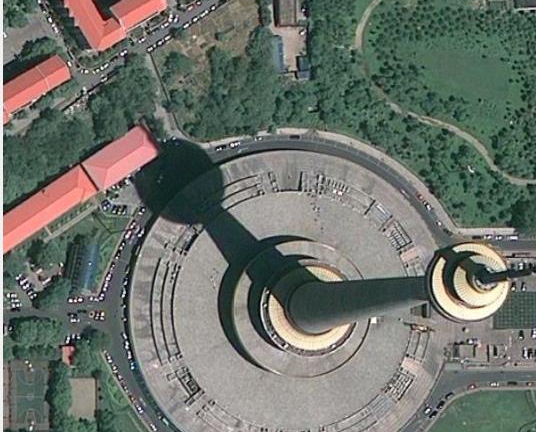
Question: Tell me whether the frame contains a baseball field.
No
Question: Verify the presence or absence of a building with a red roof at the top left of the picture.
Yes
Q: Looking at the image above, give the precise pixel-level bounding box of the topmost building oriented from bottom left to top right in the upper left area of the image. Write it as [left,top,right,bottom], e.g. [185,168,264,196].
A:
[0,54,71,118]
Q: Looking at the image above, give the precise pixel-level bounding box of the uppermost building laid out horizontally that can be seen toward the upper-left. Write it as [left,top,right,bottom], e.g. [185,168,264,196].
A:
[104,0,168,31]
